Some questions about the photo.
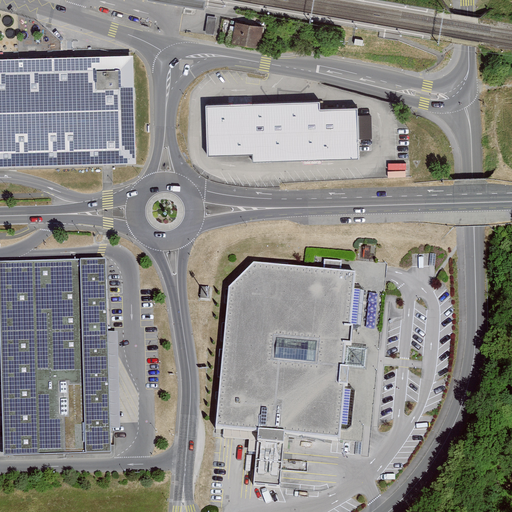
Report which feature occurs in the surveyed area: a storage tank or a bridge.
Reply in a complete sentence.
I can see a bridge in this picture.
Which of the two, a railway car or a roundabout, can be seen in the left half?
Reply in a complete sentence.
What appears in the left half is a roundabout.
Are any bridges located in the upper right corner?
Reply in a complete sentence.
Yes, there is a bridge in the upper right corner.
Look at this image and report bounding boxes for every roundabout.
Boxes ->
[126,172,204,250]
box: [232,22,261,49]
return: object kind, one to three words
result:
house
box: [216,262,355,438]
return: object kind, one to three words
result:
building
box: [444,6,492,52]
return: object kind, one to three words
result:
bridge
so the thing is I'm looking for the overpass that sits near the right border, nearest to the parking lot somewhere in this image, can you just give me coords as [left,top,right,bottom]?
[446,168,496,233]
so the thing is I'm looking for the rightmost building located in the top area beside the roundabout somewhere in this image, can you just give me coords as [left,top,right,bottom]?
[206,102,359,164]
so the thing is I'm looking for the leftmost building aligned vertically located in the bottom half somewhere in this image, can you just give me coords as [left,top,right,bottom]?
[0,258,84,455]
